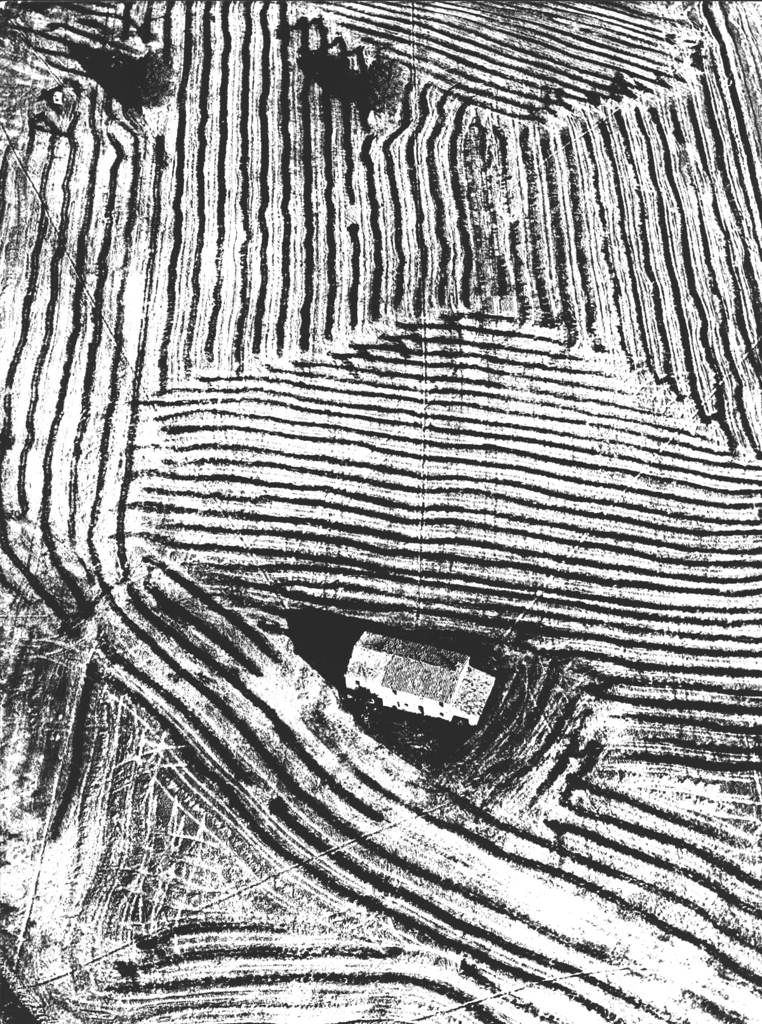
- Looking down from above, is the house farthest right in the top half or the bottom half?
bottom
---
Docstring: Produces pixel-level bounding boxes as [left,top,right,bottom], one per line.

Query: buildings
[53,90,66,107]
[344,631,497,727]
